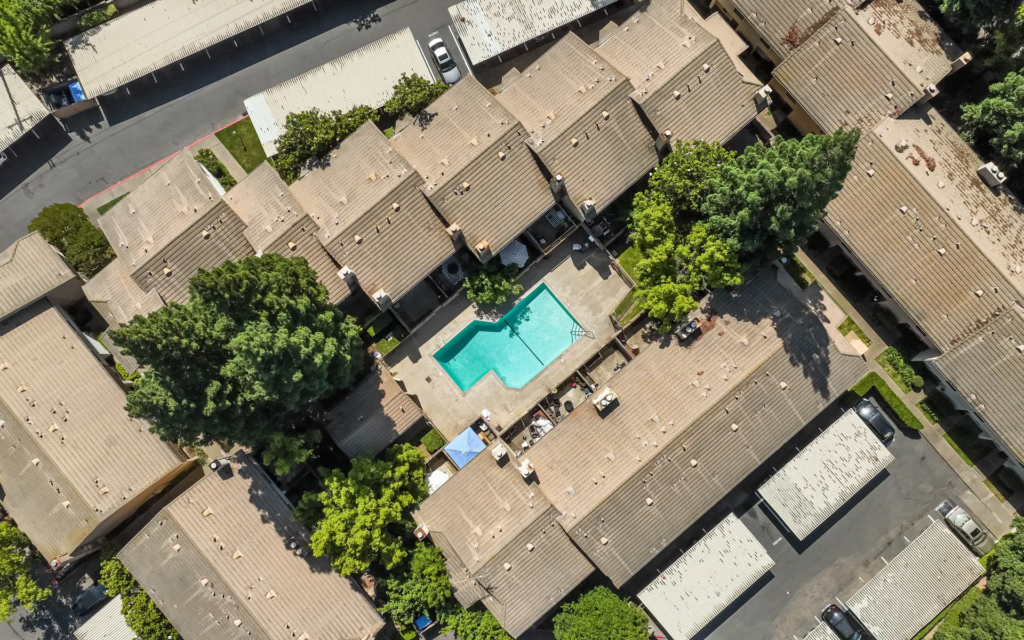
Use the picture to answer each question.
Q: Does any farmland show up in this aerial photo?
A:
No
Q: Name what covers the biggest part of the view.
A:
buildings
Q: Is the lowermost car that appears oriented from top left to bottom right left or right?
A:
right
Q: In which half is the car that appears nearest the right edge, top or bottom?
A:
bottom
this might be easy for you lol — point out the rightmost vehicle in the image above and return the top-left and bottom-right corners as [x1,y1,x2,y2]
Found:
[945,505,990,557]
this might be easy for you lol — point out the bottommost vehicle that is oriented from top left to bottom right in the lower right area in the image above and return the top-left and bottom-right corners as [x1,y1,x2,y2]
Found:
[822,602,863,640]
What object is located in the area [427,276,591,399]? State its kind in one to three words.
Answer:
swimming pool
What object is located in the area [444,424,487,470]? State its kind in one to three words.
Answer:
tent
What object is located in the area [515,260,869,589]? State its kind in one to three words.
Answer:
building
